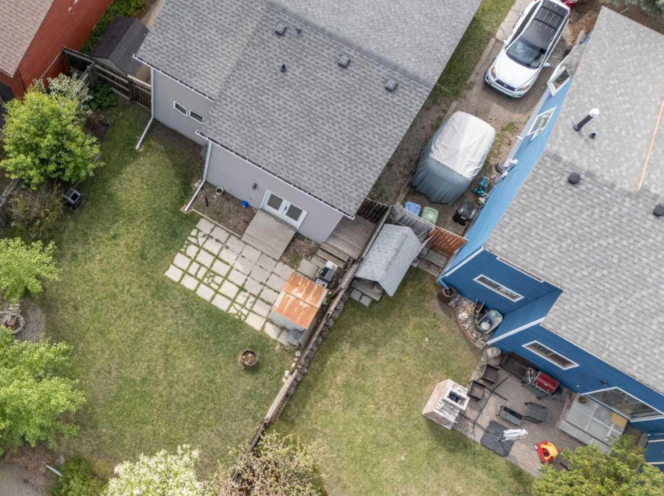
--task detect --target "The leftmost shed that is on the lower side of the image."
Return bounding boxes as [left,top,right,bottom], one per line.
[268,273,328,335]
